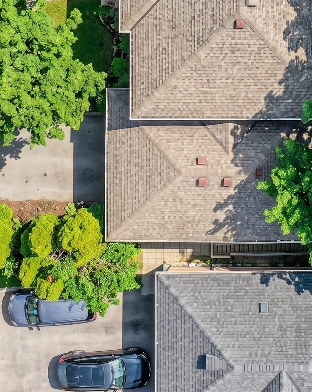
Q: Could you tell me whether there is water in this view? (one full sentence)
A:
No, no water is visible.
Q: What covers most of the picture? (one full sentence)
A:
What you mostly see from above here is buildings.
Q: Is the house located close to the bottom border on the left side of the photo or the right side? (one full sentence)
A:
The house located close to the bottom border is on the right side of the image.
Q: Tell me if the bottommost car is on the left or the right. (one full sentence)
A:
It is on the left.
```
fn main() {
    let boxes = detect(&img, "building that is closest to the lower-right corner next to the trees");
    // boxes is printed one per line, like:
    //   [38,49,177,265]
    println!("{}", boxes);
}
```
[154,263,312,392]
